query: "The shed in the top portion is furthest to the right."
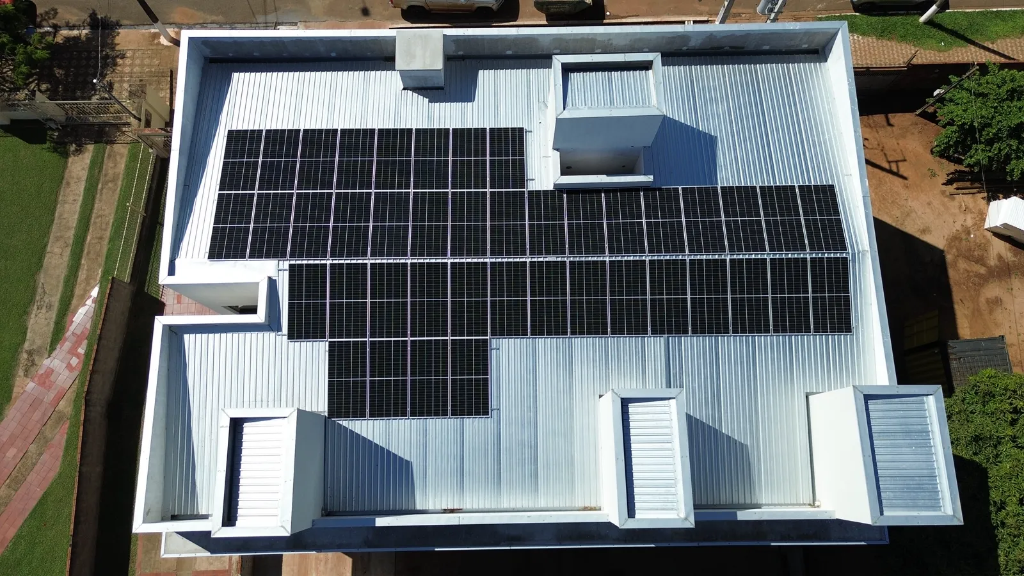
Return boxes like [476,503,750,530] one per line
[977,198,1024,248]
